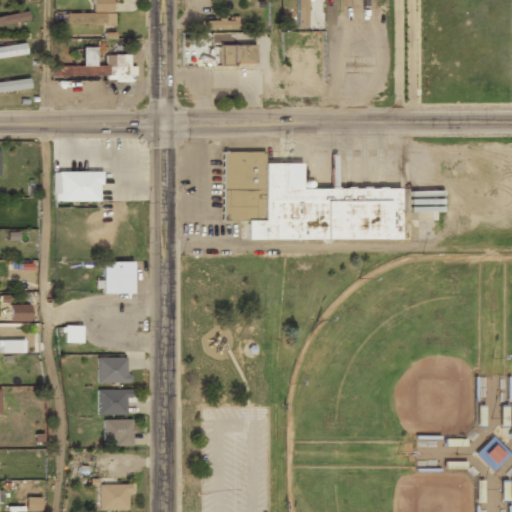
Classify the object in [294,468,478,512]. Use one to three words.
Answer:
baseball field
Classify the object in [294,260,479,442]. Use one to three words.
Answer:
baseball field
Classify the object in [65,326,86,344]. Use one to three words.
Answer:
building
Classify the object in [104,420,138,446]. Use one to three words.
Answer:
house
